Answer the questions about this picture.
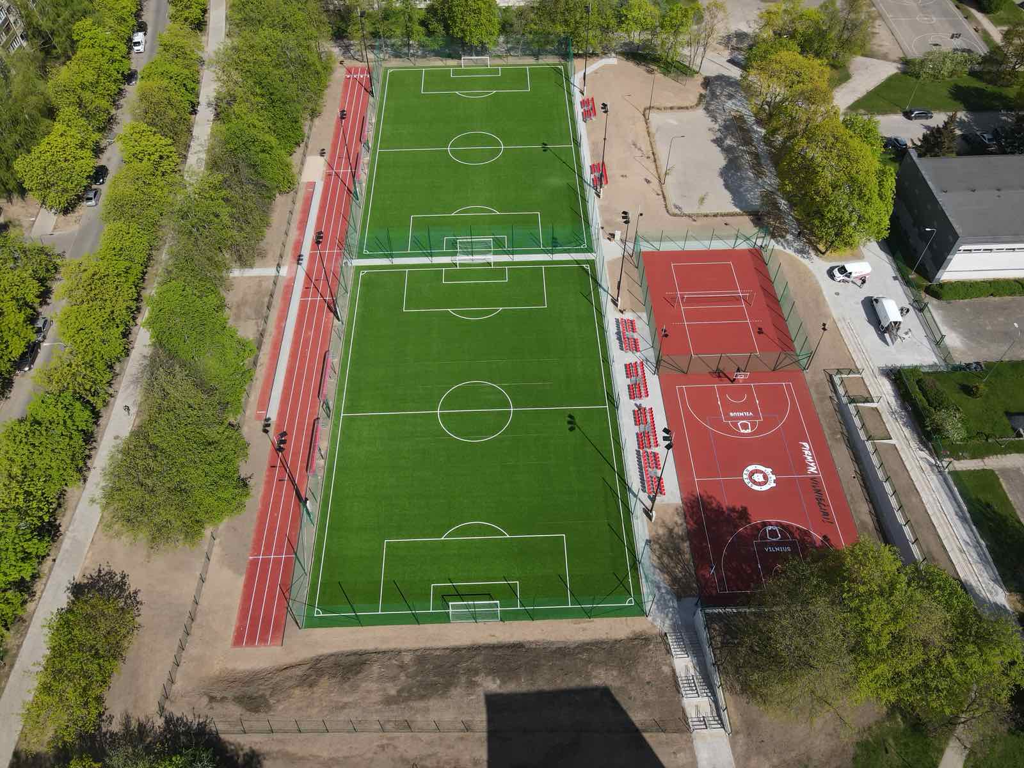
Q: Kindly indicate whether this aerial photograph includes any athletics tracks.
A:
Yes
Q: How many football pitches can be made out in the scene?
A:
2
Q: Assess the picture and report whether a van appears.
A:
Yes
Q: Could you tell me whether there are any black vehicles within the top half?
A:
Yes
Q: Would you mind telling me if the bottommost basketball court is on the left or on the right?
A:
right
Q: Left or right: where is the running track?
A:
left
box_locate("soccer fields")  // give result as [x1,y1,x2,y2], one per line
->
[301,260,647,628]
[355,62,595,259]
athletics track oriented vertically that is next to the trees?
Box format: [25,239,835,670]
[231,67,371,647]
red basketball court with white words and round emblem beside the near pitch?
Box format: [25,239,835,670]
[658,370,879,608]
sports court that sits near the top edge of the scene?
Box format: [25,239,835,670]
[874,0,986,58]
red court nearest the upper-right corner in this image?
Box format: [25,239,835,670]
[639,248,804,374]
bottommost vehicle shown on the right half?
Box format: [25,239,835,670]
[873,303,909,342]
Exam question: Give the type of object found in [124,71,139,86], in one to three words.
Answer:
car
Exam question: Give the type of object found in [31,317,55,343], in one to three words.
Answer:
car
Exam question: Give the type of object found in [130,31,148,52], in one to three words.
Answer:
vehicle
